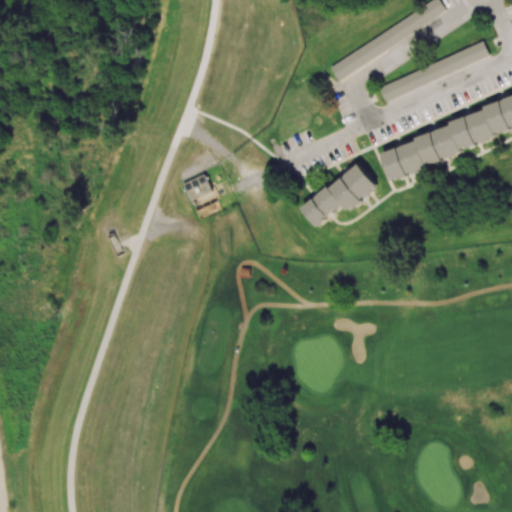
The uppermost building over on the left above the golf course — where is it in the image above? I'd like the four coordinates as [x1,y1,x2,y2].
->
[183,175,222,218]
